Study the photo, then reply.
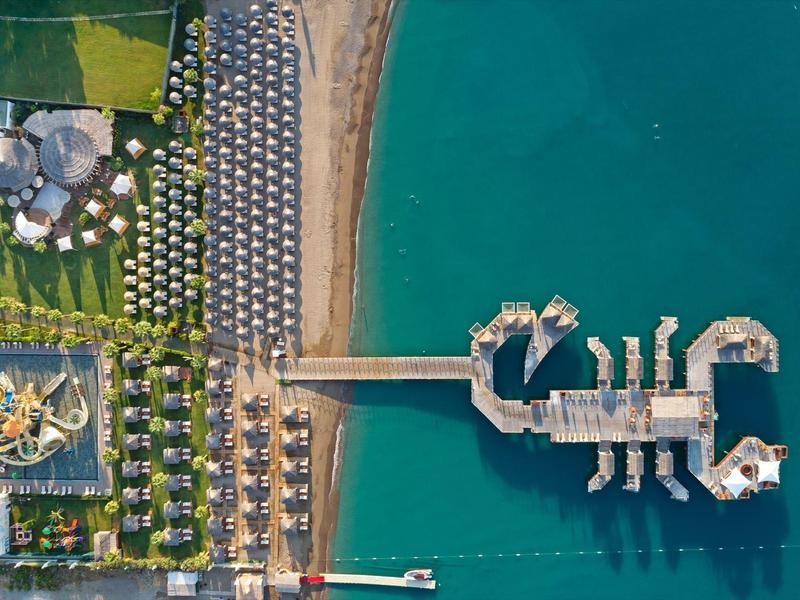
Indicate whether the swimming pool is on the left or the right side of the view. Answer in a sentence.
The swimming pool sits on the left side.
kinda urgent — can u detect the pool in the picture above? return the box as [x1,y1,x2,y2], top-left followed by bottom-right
[0,343,112,495]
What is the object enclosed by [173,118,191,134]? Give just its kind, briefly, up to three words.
gazebo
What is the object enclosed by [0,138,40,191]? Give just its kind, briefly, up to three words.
building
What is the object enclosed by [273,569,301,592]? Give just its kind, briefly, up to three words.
shed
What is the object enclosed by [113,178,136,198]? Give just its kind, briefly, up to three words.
tent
